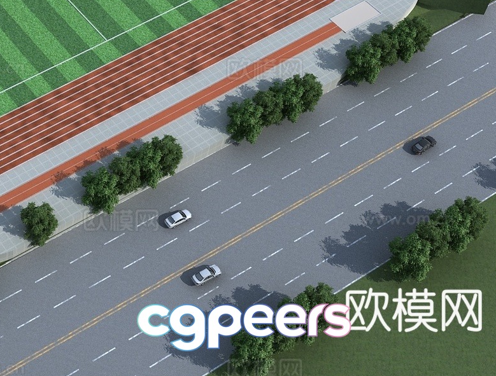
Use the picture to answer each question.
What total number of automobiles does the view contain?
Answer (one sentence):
In total, there are 3 automobiles in the scene.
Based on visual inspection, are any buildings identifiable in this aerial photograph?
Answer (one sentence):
No, the picture doesn't show any building.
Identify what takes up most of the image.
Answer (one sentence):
What you mostly see from above here is paved ground.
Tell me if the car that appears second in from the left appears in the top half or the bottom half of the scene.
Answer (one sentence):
You can find the car that appears second in from the left in the bottom half.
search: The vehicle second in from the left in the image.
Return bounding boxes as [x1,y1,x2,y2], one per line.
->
[191,265,224,290]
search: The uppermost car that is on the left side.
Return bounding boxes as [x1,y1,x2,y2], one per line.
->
[165,209,196,232]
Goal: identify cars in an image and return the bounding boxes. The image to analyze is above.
[191,265,224,290]
[412,137,441,157]
[165,209,196,232]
